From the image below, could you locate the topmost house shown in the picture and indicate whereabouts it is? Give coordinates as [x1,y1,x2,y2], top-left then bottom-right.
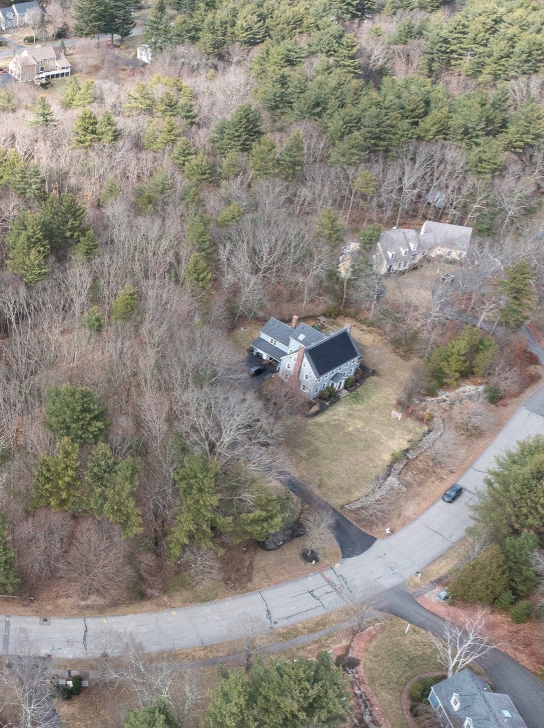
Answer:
[0,0,46,28]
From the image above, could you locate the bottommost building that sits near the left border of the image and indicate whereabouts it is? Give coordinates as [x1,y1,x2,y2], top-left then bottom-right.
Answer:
[16,42,71,80]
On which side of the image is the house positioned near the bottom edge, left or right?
right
